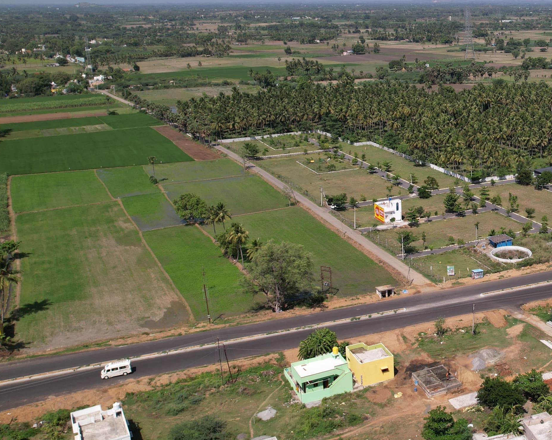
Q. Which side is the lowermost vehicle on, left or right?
left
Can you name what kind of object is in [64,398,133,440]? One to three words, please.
house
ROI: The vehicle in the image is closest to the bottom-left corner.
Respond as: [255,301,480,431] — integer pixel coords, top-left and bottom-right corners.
[98,357,132,379]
